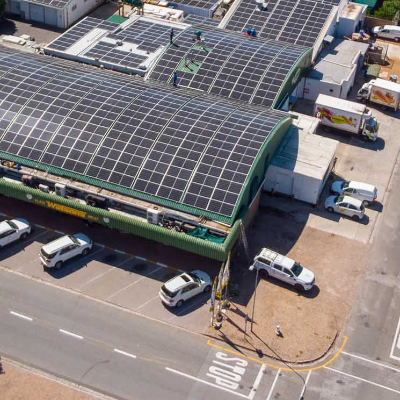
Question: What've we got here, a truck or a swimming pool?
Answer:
truck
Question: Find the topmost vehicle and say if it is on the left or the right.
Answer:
right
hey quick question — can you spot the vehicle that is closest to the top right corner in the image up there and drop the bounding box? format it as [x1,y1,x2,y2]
[369,20,400,40]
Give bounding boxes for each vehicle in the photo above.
[330,175,381,203]
[0,218,34,249]
[355,75,400,110]
[323,193,369,219]
[36,231,97,268]
[156,265,215,305]
[369,20,400,40]
[251,246,320,290]
[311,98,381,145]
